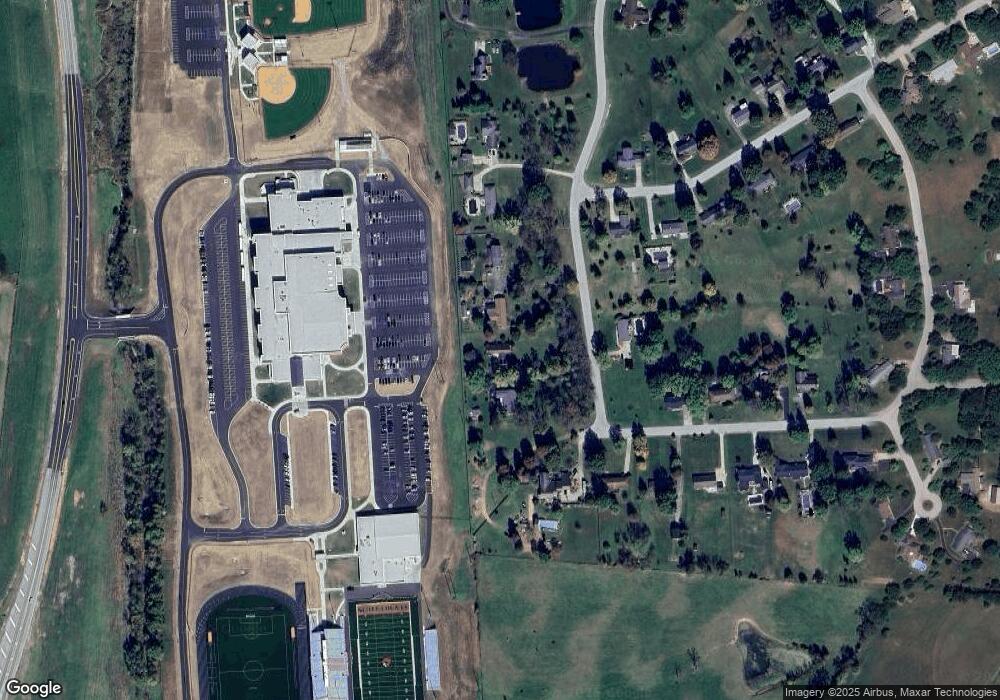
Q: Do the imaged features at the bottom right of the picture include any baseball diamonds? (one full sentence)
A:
No, the scene shows no baseball diamond at the bottom right of the picture.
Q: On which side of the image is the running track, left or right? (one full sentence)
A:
It is on the left.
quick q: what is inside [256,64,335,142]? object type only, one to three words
baseball field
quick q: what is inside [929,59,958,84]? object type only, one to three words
barn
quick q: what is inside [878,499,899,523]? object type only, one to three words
house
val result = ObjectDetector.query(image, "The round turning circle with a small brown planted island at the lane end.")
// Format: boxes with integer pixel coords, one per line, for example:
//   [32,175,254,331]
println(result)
[914,491,942,519]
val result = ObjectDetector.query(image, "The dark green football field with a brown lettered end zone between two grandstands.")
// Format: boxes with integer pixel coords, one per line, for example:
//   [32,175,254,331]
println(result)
[344,583,427,700]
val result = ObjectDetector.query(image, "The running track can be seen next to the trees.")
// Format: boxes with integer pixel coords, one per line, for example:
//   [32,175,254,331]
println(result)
[196,582,312,700]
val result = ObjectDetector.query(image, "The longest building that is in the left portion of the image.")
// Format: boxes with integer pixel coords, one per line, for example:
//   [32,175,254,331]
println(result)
[252,189,354,388]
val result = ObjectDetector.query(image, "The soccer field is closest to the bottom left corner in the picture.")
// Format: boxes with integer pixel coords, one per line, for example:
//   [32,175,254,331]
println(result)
[211,595,296,700]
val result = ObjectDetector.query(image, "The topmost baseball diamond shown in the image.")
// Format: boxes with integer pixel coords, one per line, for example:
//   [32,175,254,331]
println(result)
[249,0,370,40]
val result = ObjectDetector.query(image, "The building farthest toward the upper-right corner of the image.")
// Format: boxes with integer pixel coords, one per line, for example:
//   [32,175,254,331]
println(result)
[959,40,984,68]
